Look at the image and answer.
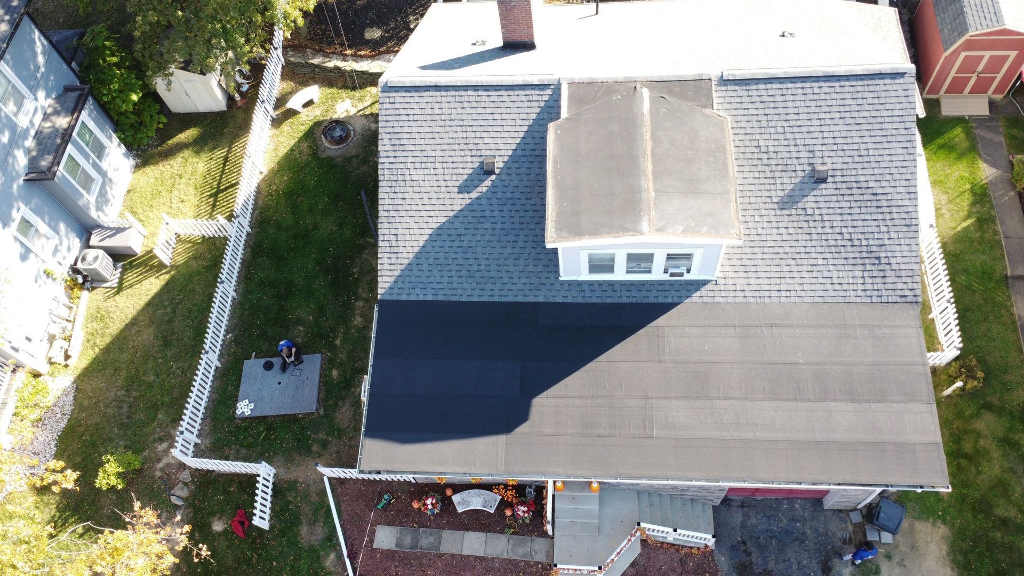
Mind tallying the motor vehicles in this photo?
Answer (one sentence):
There are no motor vehicles in the image.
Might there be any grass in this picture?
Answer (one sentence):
Yes, some grass is visible.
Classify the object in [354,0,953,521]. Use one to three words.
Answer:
house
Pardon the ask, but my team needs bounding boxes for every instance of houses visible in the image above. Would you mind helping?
[0,1,136,371]
[354,0,953,521]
